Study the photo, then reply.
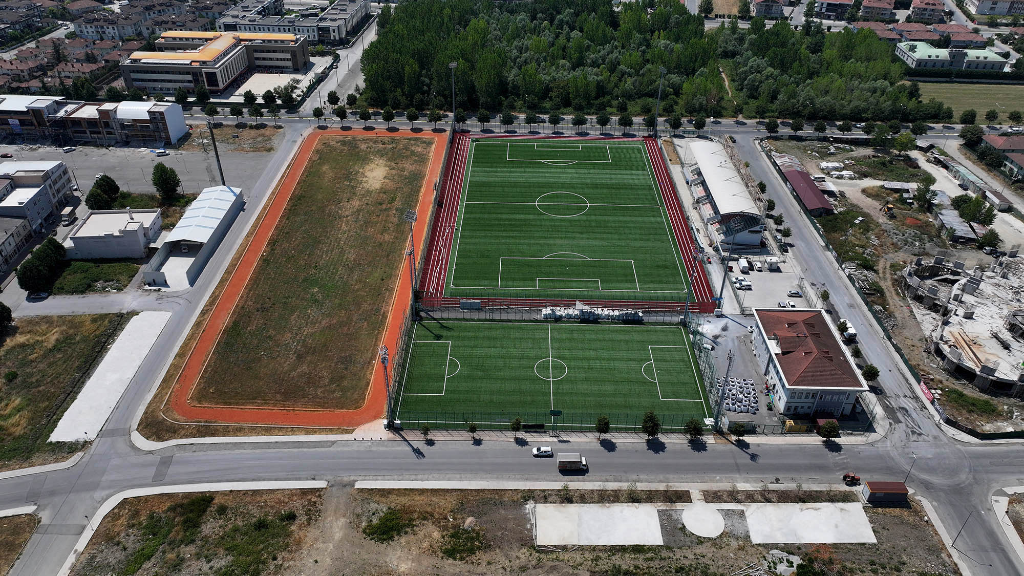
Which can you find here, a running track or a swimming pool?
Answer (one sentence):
The one in the frame is a running track.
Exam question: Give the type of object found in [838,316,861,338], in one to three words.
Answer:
truck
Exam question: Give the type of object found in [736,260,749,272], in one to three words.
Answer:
vehicle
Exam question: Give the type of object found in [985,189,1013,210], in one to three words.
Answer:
shed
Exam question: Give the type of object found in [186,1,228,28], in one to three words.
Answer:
building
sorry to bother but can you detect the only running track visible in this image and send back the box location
[416,133,718,316]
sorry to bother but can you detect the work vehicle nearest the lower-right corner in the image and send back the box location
[843,472,862,485]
